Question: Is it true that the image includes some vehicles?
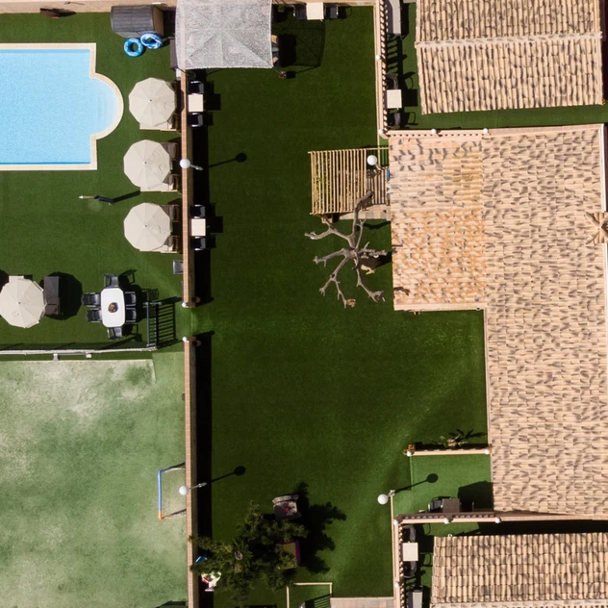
No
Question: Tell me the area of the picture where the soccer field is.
bottom left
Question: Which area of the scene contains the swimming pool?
top left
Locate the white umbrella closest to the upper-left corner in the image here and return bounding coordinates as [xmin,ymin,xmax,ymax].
[130,80,178,126]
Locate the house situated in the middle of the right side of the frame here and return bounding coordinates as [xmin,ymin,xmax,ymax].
[388,123,608,520]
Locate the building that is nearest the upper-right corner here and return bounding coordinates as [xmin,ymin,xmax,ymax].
[414,0,607,114]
